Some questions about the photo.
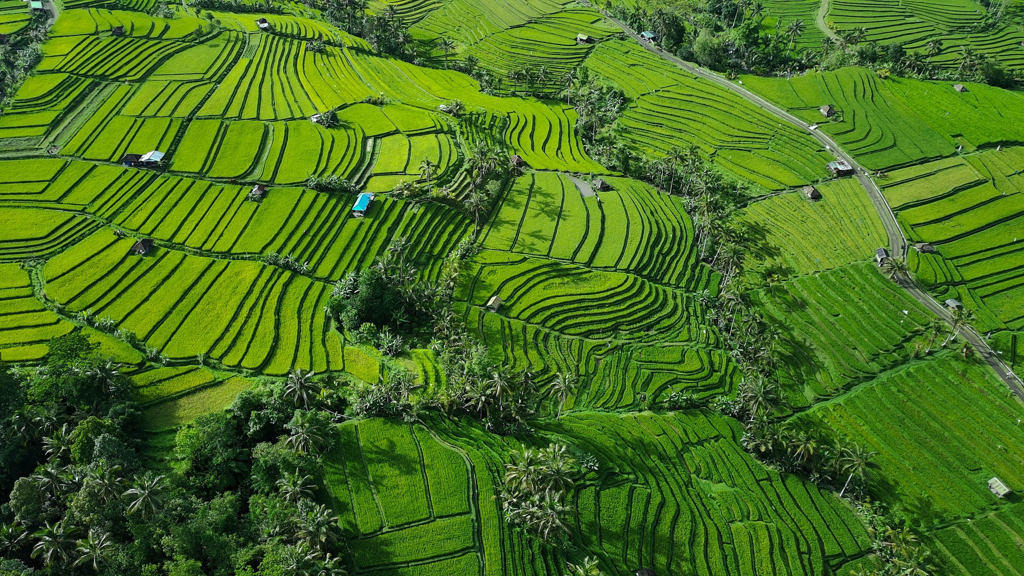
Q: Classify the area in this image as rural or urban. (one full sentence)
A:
The area is rural.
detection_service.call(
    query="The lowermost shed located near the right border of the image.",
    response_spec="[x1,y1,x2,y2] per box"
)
[985,476,1016,500]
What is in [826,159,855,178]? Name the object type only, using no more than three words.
shed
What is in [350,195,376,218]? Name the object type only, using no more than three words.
shed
